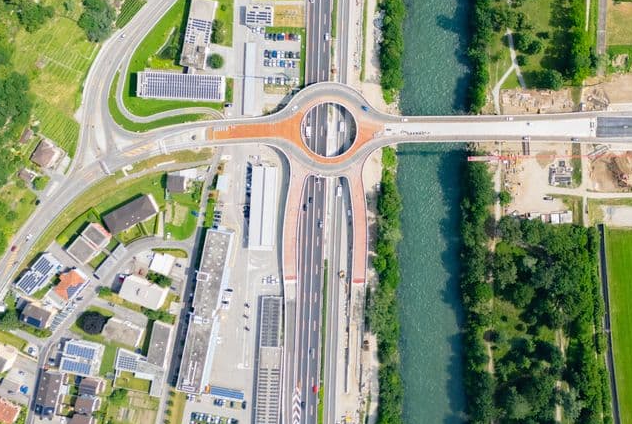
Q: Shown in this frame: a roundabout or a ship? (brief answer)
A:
roundabout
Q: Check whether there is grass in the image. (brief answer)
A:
Yes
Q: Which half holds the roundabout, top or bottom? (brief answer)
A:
top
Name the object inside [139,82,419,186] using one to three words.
roundabout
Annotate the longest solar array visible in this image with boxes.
[141,74,221,98]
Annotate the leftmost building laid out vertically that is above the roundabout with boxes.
[180,0,221,71]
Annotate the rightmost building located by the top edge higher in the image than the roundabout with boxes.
[246,4,275,28]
